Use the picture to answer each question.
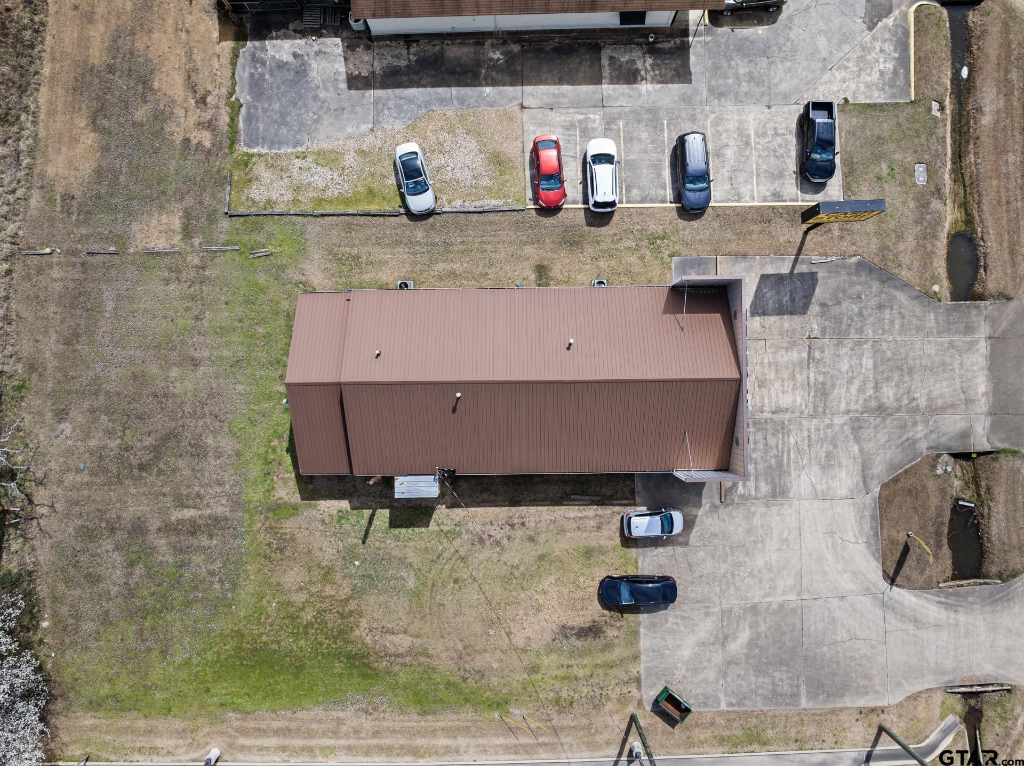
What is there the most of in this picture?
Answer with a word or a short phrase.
grass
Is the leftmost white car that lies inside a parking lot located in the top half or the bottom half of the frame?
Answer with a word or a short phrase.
top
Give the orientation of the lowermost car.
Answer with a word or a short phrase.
from left to right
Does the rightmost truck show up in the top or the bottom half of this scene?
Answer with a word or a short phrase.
top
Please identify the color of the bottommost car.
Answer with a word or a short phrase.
black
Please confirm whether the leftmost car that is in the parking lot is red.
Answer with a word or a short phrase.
Yes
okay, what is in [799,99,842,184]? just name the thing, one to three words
truck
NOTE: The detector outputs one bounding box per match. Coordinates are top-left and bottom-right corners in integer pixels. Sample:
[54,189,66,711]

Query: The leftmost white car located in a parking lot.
[586,138,622,214]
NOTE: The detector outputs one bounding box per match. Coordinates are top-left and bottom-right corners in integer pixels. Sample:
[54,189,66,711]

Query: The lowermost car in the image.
[597,572,678,610]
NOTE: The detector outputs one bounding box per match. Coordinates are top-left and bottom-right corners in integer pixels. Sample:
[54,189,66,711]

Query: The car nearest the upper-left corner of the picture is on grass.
[395,141,434,216]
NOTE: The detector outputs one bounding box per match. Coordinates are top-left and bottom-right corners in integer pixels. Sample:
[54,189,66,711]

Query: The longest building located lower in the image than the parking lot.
[283,274,753,482]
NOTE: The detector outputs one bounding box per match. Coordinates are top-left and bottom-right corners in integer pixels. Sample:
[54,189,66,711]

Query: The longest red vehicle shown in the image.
[532,134,568,209]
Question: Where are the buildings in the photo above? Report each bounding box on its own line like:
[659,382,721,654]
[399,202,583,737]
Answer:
[283,274,753,482]
[349,0,726,41]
